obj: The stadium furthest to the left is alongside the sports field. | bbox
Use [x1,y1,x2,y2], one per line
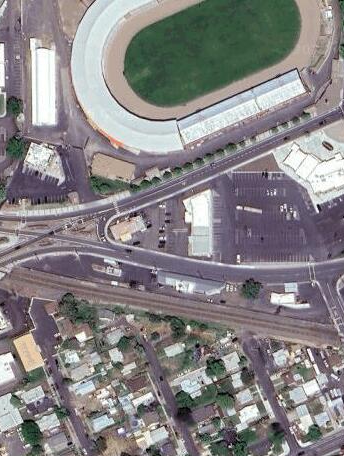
[71,0,183,160]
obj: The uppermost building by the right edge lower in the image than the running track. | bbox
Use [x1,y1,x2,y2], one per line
[283,143,344,194]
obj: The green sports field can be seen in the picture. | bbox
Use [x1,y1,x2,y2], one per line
[127,0,298,104]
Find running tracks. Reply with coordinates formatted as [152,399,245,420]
[106,0,317,123]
